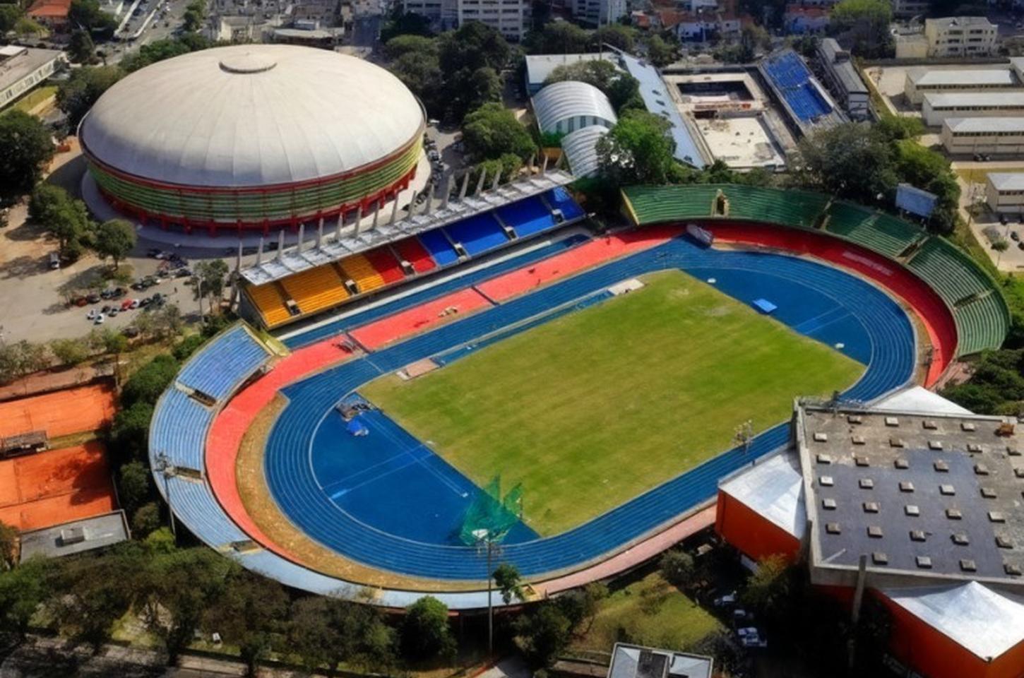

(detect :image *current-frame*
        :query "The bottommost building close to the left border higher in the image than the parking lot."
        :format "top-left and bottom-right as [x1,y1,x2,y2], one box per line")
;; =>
[0,42,64,108]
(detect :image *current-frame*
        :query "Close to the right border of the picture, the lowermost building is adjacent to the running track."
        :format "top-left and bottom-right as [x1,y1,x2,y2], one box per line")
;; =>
[717,388,1024,678]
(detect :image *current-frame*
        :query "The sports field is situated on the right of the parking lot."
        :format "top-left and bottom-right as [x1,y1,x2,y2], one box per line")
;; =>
[357,267,865,536]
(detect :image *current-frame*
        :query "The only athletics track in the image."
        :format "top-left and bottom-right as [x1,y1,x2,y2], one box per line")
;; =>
[264,248,914,579]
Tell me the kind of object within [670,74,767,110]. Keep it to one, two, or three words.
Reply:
swimming pool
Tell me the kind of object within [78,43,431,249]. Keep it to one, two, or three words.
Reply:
stadium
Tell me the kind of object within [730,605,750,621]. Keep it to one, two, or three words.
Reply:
car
